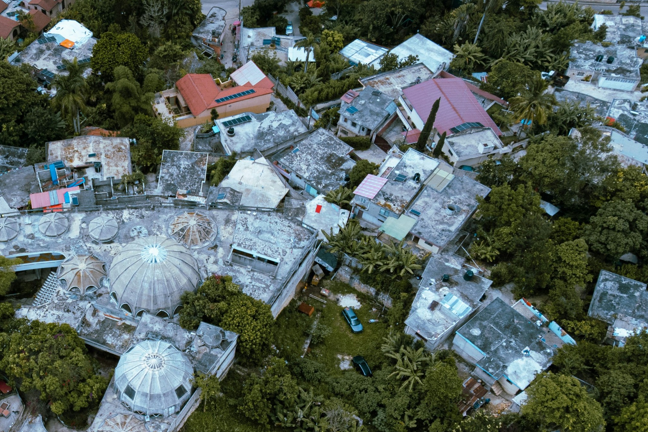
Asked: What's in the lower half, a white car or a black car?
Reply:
black car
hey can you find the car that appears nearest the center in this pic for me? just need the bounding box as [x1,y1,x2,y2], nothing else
[342,307,364,335]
